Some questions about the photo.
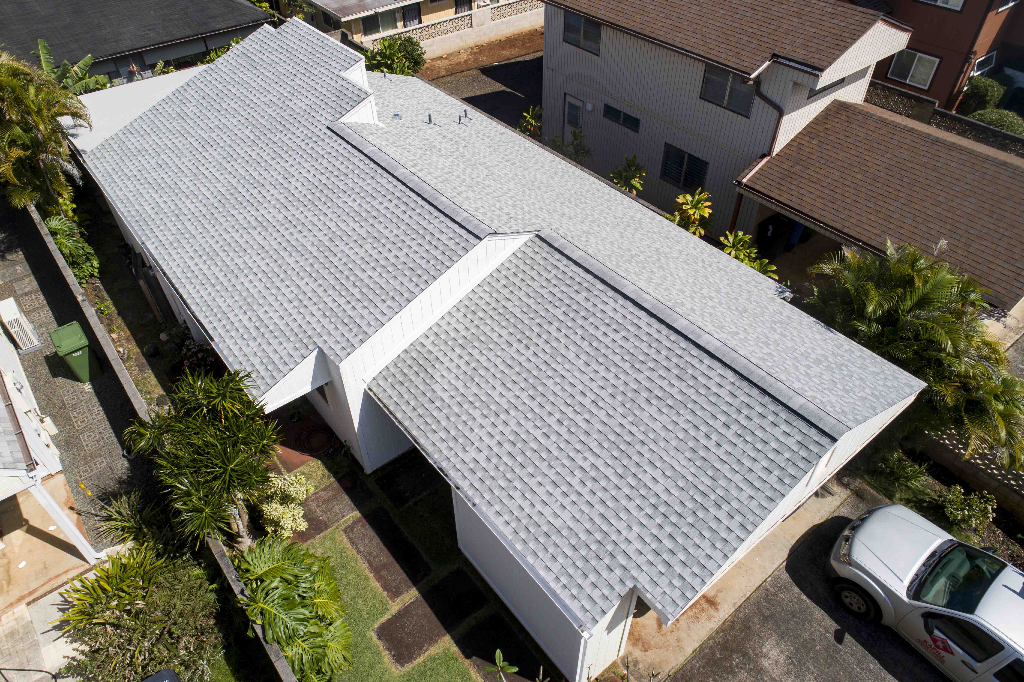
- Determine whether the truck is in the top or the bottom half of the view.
bottom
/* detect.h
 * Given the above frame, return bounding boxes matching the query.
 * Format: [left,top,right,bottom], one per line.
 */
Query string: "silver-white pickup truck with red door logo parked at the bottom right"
[828,508,1024,682]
